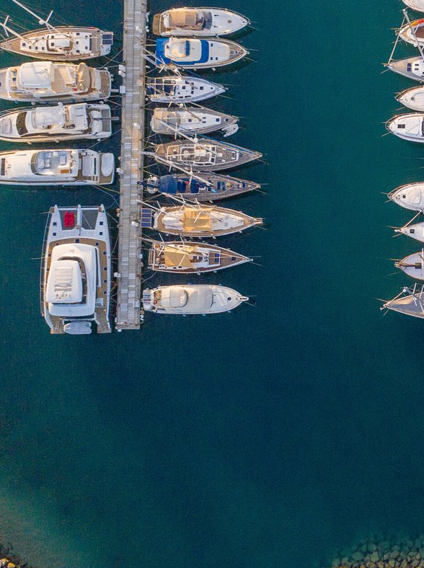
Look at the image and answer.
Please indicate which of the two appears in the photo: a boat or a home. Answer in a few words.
boat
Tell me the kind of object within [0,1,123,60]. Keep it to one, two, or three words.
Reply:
boat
